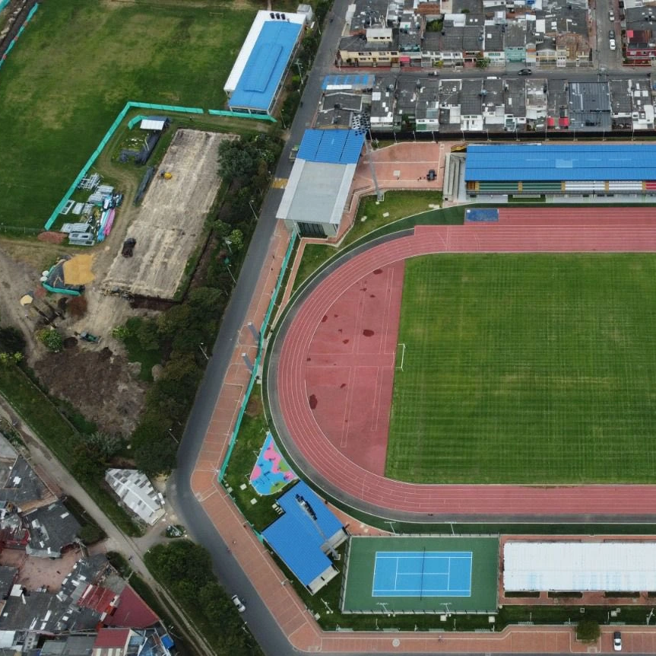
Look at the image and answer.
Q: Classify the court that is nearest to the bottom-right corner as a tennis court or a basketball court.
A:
tennis court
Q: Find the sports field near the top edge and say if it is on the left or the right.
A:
left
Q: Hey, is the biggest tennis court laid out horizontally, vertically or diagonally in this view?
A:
horizontally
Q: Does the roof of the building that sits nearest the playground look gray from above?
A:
No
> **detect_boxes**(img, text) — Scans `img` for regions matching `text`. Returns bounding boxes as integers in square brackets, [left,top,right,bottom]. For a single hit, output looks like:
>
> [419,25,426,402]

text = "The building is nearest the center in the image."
[276,130,365,234]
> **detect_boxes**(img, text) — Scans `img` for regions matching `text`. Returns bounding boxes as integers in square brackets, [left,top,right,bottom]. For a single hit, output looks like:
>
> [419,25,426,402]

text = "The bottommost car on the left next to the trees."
[232,594,245,613]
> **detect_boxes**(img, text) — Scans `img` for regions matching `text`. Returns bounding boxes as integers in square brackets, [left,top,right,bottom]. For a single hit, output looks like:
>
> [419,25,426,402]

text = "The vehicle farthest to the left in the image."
[71,327,101,341]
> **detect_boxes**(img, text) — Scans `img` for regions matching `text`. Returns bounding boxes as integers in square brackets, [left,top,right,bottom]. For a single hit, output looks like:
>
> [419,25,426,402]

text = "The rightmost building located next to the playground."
[263,479,353,598]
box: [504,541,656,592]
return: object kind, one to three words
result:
building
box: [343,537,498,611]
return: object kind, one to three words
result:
tennis court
